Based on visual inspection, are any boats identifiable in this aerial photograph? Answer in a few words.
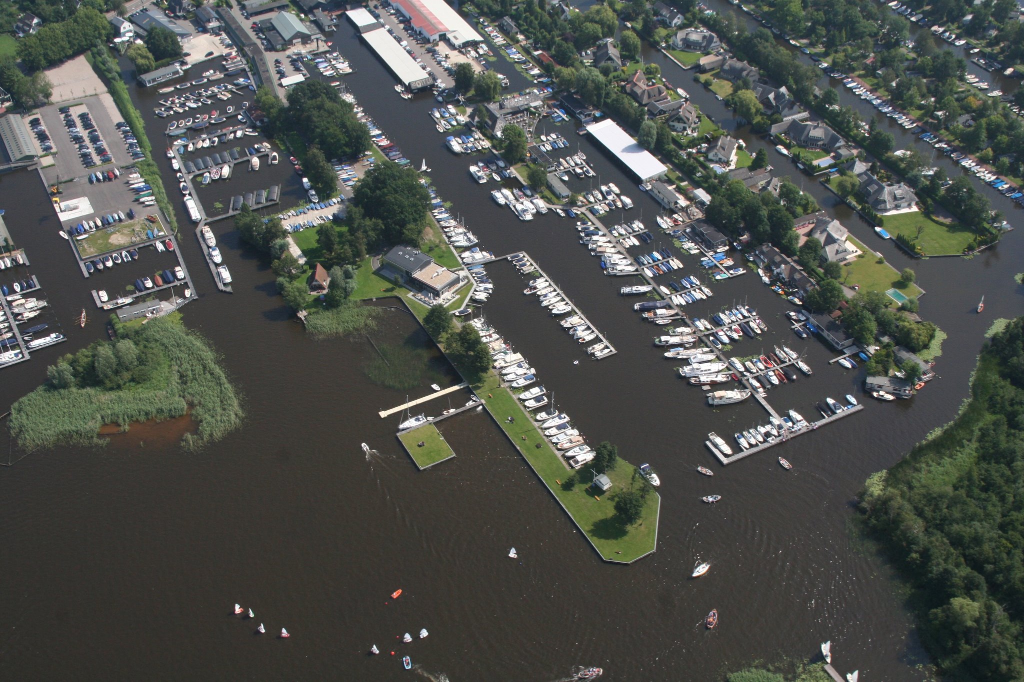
Yes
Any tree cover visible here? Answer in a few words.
Yes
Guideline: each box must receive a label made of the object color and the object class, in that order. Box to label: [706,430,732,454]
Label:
white boat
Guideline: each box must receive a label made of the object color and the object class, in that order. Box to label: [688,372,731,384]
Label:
white ship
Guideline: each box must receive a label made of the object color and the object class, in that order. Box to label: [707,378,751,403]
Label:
white ship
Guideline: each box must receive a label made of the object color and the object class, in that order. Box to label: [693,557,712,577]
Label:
white boat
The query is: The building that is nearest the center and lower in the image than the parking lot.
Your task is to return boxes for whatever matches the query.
[384,245,456,297]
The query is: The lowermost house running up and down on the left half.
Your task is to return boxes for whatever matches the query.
[307,258,330,298]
